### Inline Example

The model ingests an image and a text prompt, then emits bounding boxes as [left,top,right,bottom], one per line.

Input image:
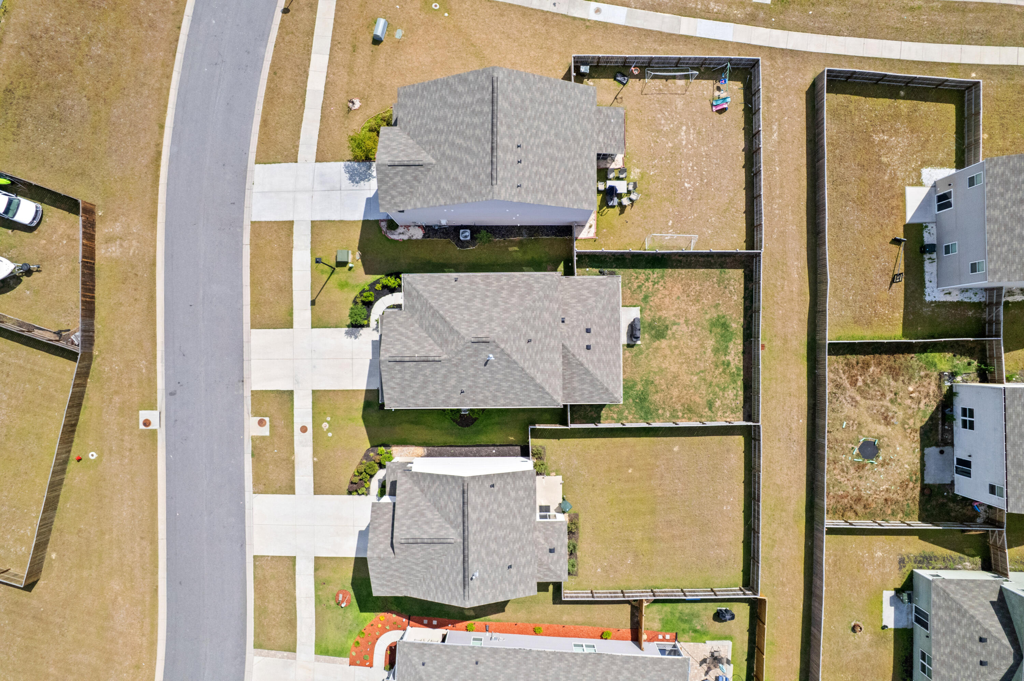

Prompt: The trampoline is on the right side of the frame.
[858,437,884,463]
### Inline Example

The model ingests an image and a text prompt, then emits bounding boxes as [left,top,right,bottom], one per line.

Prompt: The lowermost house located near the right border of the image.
[913,570,1024,681]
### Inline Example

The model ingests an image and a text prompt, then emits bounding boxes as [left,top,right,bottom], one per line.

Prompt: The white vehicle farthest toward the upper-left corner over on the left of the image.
[0,191,44,227]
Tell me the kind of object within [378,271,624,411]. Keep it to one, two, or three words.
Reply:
house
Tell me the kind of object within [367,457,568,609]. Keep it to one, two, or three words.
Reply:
house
